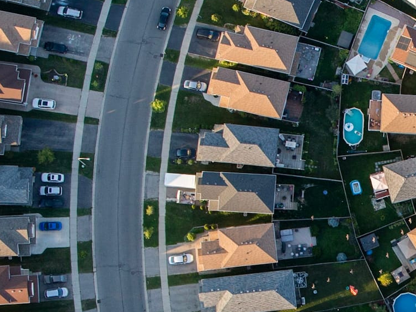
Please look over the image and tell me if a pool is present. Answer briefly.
Yes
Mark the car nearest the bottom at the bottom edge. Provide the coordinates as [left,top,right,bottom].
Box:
[42,286,69,299]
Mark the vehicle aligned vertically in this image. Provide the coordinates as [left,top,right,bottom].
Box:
[155,4,170,31]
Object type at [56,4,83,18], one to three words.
vehicle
